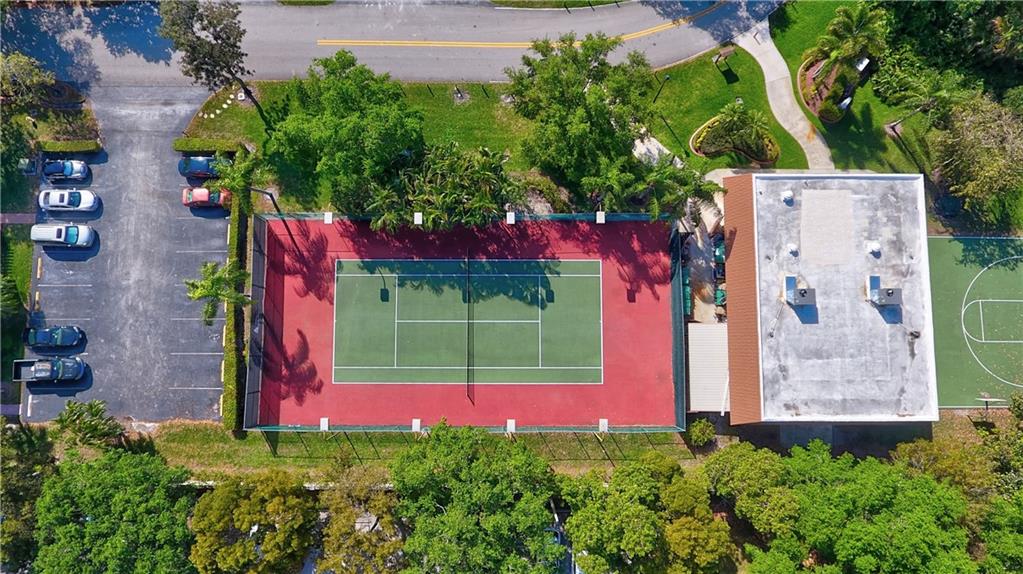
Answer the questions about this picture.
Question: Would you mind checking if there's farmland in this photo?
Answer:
No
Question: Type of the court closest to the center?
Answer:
tennis court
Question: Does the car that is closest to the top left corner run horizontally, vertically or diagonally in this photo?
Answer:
horizontally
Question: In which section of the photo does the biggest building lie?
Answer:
right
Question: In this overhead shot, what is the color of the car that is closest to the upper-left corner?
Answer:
blue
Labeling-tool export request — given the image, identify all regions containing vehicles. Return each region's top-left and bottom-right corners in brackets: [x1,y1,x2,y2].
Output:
[42,158,92,181]
[184,186,229,209]
[25,324,86,348]
[39,188,101,213]
[11,357,88,383]
[180,155,236,180]
[29,223,98,248]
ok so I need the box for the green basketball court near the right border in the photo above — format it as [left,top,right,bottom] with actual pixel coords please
[927,238,1023,406]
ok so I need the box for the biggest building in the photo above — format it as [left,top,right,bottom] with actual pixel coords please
[713,174,938,428]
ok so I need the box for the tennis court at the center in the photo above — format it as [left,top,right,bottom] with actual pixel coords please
[260,220,674,425]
